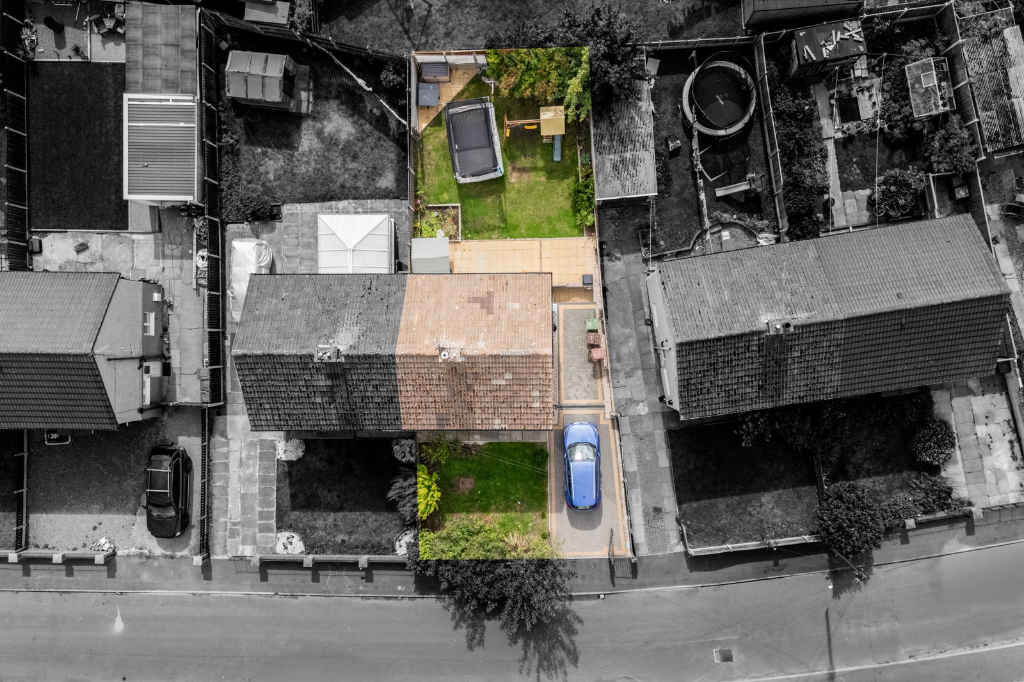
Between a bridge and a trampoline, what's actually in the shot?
trampoline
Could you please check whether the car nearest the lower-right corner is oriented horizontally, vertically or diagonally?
vertically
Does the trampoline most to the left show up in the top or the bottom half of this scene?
top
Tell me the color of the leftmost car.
black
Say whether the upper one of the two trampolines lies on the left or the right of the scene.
right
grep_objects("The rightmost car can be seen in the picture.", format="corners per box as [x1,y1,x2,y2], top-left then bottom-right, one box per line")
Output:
[561,422,603,513]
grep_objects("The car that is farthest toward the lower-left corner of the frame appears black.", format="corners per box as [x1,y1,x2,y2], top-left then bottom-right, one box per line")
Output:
[144,449,192,538]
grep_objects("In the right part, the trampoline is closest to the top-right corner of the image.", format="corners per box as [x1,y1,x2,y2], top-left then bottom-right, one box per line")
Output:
[681,53,756,132]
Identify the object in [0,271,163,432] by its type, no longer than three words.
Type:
house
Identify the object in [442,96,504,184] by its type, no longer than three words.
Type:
trampoline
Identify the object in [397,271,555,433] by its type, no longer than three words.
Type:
house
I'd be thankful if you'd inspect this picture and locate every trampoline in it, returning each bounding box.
[442,96,504,184]
[681,53,756,132]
